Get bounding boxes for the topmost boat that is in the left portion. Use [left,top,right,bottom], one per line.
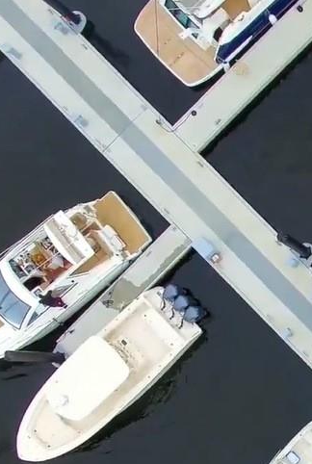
[0,191,151,357]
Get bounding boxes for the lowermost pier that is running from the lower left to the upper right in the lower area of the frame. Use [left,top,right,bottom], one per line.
[53,222,195,361]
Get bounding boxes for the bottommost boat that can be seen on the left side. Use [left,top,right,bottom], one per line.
[14,283,210,462]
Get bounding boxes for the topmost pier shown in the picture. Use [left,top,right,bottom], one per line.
[172,0,312,151]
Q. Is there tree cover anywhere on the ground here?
No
